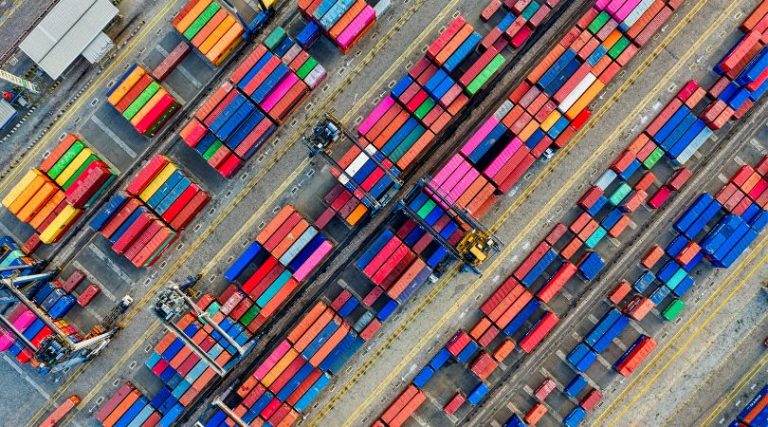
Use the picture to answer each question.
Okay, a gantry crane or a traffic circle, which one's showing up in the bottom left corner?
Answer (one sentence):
The feature located in the bottom left corner is a gantry crane.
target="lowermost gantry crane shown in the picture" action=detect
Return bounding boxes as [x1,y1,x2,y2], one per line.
[193,374,251,427]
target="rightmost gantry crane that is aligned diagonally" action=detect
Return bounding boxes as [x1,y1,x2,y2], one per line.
[398,176,502,275]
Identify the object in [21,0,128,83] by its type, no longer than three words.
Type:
building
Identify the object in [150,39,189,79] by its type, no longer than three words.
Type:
shipping container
